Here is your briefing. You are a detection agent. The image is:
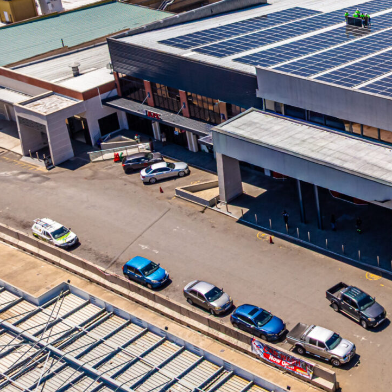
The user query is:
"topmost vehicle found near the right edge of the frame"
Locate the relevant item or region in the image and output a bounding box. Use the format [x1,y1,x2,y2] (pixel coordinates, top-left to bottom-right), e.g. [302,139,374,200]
[324,284,387,329]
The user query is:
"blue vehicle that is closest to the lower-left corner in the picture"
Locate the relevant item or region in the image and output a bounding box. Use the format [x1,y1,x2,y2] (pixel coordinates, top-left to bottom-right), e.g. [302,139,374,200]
[122,254,170,289]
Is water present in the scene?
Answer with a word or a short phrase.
No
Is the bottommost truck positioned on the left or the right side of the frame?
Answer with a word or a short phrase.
right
